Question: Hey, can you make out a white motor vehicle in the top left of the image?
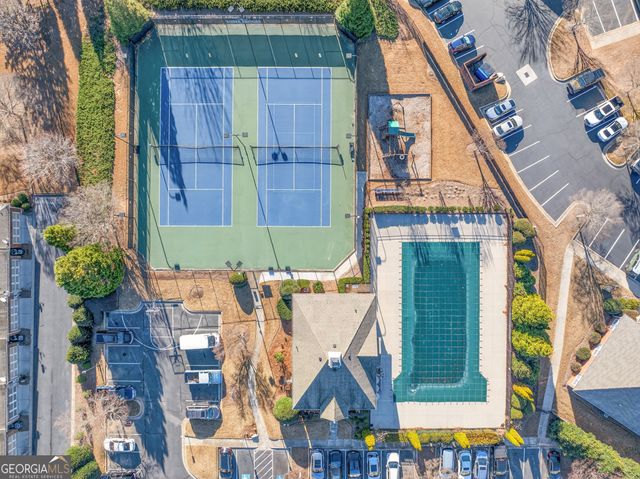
No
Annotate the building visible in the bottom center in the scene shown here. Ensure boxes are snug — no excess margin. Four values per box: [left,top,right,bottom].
[291,293,381,425]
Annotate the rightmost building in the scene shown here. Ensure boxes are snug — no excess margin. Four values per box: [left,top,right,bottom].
[563,314,640,436]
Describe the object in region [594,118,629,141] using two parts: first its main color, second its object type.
white car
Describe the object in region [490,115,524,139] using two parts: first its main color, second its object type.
white car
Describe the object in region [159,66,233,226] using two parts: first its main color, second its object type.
blue tennis court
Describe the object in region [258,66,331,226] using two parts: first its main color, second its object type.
blue tennis court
